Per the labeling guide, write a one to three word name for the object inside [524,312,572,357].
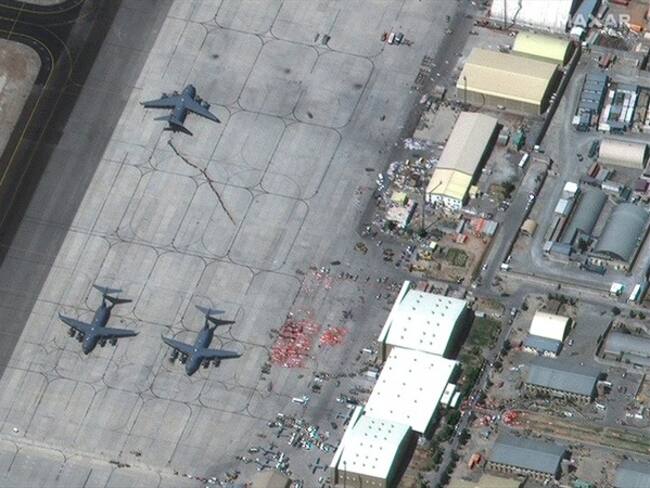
building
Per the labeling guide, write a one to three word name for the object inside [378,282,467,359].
hangar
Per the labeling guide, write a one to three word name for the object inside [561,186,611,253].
building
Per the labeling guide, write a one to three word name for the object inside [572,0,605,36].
shed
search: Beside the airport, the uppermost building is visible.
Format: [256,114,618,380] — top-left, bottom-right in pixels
[490,0,578,37]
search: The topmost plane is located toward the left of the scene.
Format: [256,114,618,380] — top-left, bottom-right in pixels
[139,84,215,130]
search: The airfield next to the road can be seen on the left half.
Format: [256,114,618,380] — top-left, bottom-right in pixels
[0,0,481,488]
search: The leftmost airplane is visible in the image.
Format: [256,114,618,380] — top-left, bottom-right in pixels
[60,282,137,354]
